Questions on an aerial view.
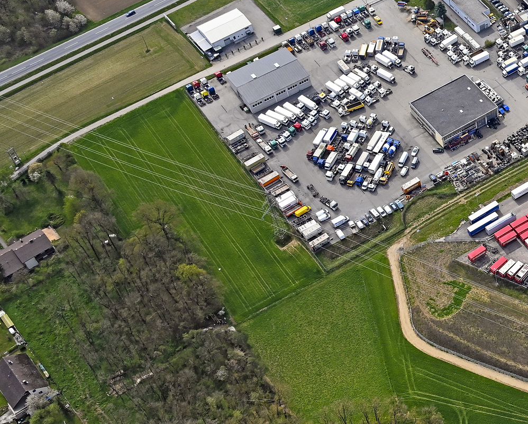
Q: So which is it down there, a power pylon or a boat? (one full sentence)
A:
This aerial view contains a power pylon.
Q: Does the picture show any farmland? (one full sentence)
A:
Yes, farmland can be seen from above here.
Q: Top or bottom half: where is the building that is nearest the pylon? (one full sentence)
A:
The building that is nearest the pylon is in the top half of the image.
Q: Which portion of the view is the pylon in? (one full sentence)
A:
The pylon appears toward the center of the photo.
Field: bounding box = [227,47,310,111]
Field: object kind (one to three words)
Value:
building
